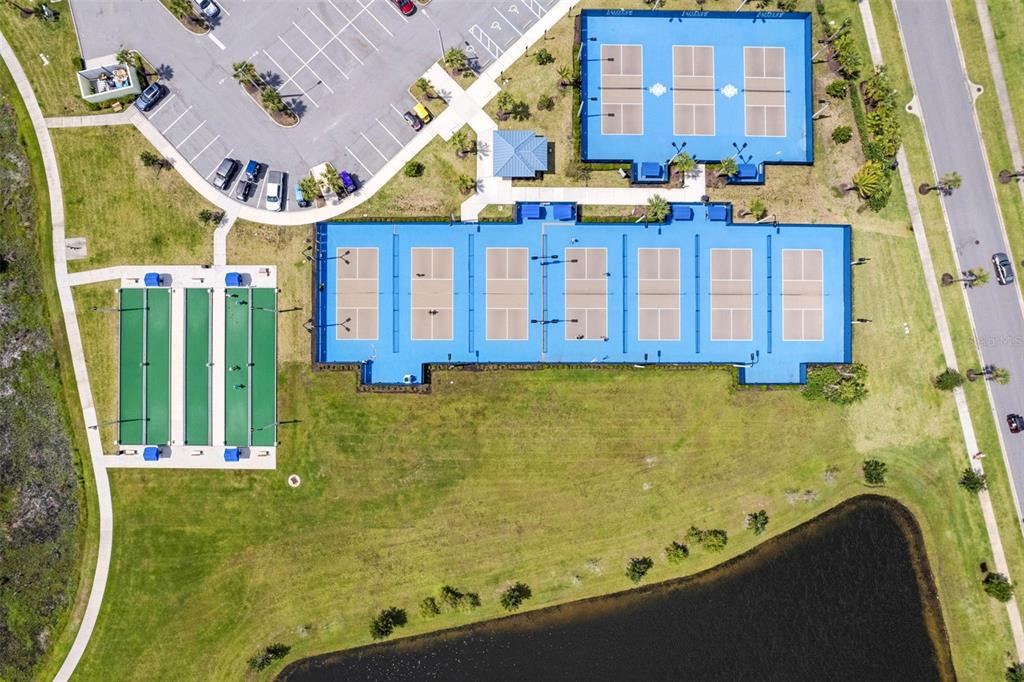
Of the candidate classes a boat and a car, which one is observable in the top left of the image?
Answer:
car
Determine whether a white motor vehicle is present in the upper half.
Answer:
Yes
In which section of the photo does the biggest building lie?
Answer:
top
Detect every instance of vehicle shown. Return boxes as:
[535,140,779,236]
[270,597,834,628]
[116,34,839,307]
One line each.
[236,180,253,199]
[338,171,357,191]
[403,108,421,129]
[1008,414,1024,434]
[132,78,163,109]
[244,161,261,182]
[213,156,237,190]
[292,184,308,204]
[993,253,1015,285]
[265,169,283,211]
[415,101,432,121]
[196,0,219,17]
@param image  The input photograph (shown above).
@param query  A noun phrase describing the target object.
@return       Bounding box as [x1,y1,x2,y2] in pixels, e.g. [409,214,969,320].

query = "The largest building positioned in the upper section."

[493,130,547,179]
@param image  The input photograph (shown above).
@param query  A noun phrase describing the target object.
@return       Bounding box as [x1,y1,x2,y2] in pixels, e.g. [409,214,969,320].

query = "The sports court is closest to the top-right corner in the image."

[743,46,791,137]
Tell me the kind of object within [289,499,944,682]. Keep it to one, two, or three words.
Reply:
pond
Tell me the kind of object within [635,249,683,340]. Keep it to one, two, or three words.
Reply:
sports court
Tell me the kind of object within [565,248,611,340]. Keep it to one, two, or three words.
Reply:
sports court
